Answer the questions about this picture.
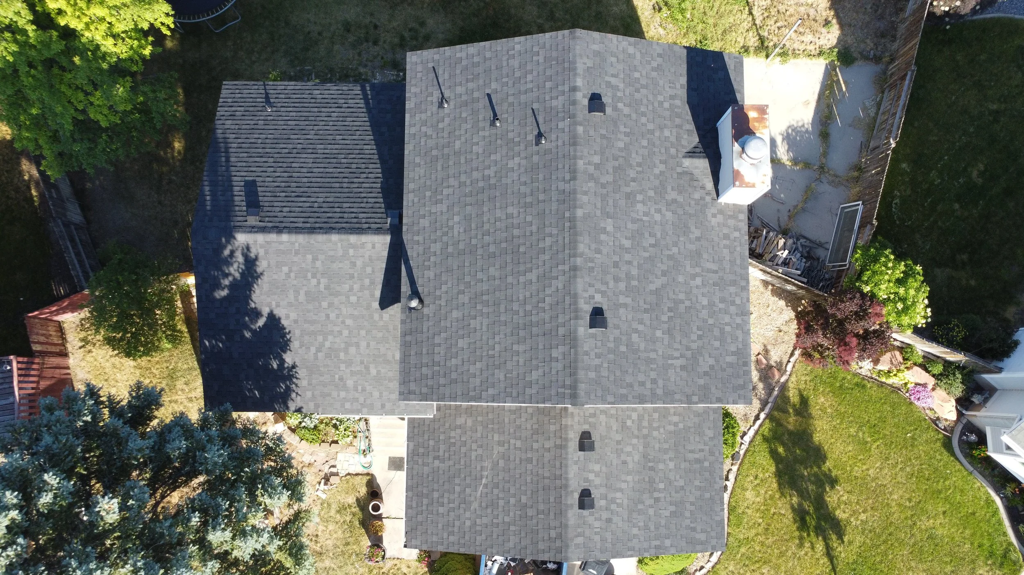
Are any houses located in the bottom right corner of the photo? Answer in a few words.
Yes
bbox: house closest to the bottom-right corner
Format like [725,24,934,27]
[959,359,1024,484]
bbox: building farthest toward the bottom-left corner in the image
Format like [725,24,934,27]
[190,28,773,562]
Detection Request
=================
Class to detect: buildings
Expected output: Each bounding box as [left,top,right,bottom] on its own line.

[959,359,1024,484]
[190,28,773,562]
